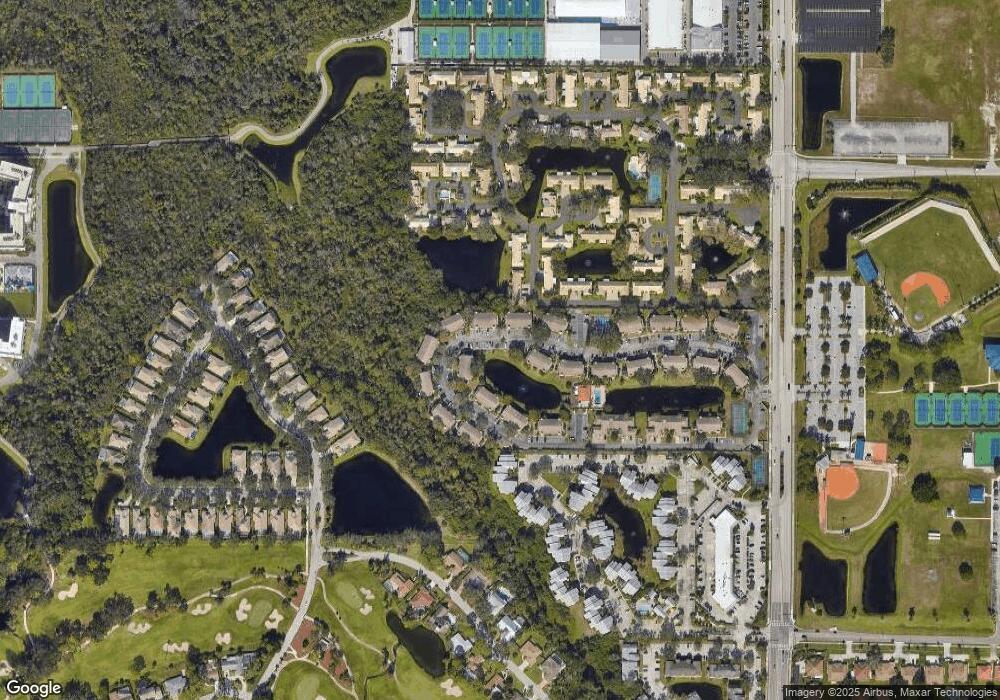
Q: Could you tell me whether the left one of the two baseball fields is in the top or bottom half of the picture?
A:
bottom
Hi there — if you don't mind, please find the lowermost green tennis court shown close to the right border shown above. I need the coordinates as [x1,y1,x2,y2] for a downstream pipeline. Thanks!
[976,432,1000,466]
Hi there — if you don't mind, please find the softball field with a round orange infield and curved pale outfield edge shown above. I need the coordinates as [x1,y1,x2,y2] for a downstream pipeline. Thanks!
[826,466,892,534]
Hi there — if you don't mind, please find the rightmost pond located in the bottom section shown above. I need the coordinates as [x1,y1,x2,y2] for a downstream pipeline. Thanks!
[861,525,897,614]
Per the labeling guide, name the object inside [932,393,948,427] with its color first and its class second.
green tennis court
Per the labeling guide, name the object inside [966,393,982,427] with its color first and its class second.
green tennis court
